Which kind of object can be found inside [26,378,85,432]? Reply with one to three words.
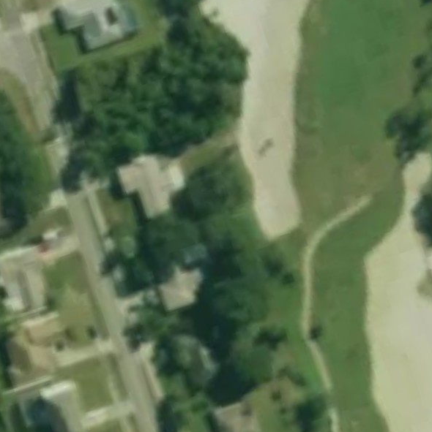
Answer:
house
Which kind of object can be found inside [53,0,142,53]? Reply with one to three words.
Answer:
house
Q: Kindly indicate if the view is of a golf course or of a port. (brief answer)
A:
golf course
